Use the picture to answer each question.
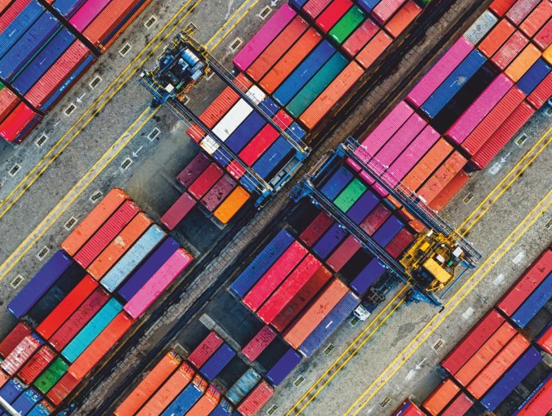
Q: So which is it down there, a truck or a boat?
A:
truck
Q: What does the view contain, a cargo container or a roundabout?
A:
cargo container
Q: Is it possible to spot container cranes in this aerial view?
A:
Yes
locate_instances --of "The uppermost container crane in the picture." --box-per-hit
[130,21,322,219]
